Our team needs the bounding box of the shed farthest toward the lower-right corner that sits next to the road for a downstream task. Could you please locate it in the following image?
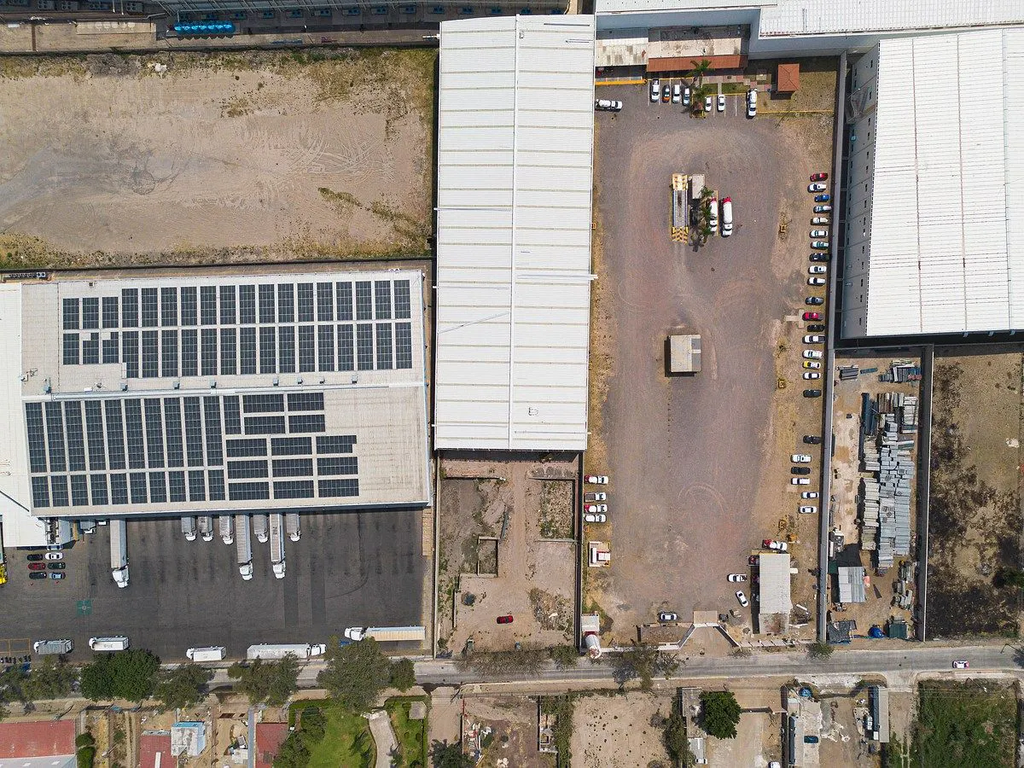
[869,678,889,742]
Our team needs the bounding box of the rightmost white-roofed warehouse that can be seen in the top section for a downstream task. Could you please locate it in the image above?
[841,29,1024,339]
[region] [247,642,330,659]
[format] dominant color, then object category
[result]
white vehicle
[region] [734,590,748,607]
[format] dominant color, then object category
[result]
white car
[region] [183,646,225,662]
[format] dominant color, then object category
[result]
white vehicle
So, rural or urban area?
urban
